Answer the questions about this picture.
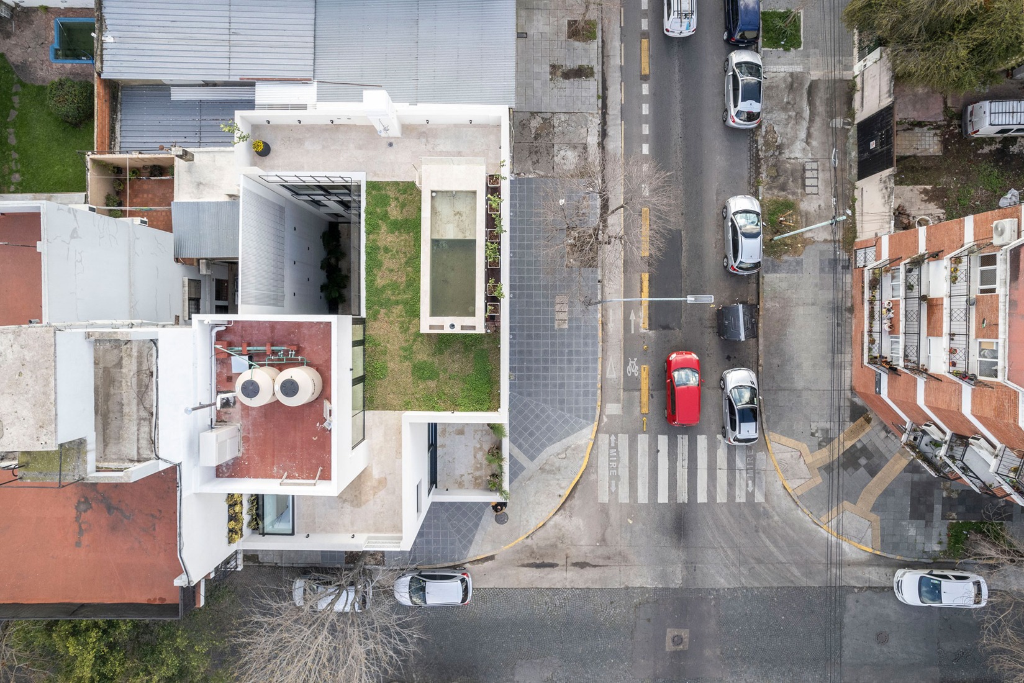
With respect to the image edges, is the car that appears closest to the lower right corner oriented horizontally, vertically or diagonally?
horizontally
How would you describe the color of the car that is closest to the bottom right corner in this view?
white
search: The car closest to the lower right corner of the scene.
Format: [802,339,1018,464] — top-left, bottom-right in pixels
[893,565,986,612]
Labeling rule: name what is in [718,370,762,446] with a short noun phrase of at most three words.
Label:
car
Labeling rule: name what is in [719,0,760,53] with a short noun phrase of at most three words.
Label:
car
